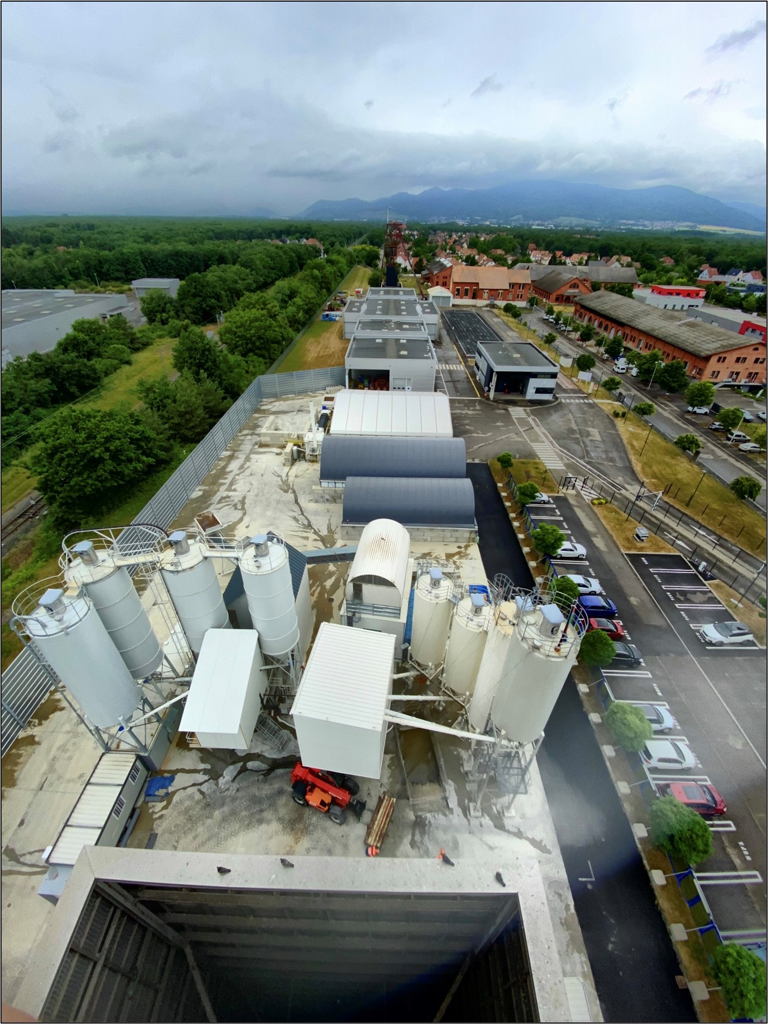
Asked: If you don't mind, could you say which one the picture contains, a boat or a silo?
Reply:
silo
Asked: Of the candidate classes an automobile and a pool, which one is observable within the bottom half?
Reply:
automobile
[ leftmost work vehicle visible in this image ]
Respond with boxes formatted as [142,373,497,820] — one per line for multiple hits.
[286,756,358,821]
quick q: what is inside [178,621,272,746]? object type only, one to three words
shed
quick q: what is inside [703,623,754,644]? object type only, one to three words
car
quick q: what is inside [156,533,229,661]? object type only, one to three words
silo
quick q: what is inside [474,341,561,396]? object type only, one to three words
building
